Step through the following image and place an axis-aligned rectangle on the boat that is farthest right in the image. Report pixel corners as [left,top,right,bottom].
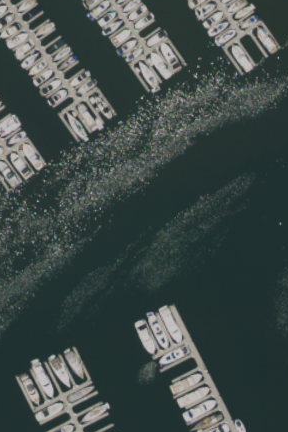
[258,29,279,56]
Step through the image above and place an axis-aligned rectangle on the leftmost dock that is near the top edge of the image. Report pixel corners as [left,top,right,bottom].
[0,0,116,139]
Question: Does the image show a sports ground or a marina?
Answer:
marina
